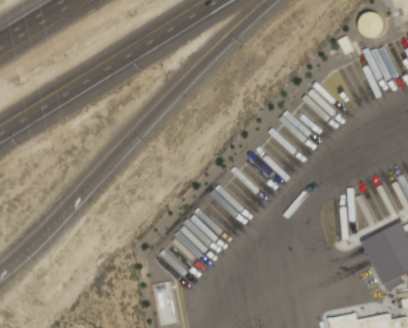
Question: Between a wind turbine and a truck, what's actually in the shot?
truck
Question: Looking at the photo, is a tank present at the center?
No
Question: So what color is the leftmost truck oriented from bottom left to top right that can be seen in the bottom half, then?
white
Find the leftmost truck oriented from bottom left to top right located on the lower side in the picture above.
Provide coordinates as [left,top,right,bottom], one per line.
[282,184,316,218]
